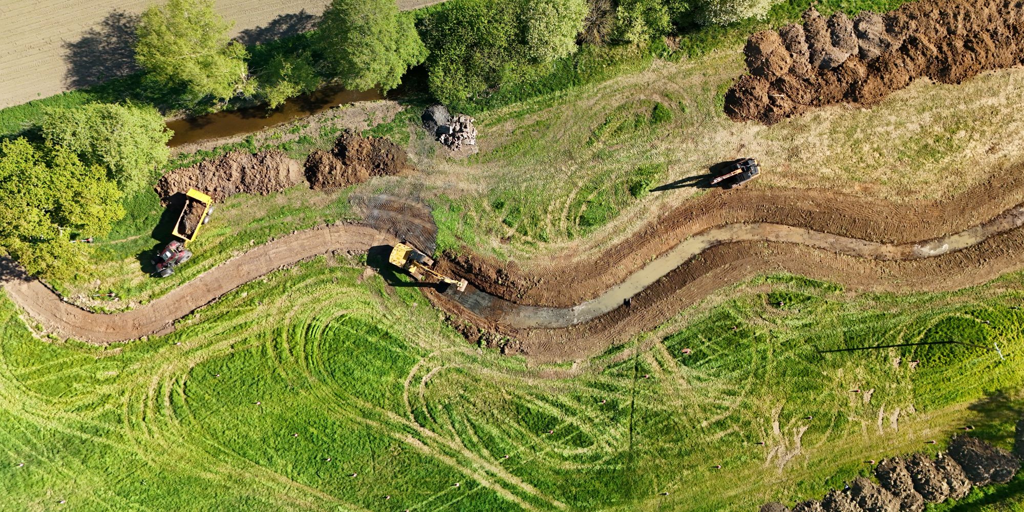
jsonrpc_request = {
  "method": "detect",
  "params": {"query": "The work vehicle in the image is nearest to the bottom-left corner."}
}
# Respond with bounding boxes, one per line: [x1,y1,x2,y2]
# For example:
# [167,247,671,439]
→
[146,236,191,279]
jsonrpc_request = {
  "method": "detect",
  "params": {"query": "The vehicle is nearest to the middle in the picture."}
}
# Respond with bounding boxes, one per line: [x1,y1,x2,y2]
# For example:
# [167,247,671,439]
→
[388,238,468,293]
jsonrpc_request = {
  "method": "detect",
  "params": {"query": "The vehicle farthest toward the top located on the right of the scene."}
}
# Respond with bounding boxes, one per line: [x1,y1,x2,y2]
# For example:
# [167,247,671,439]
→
[710,153,770,190]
